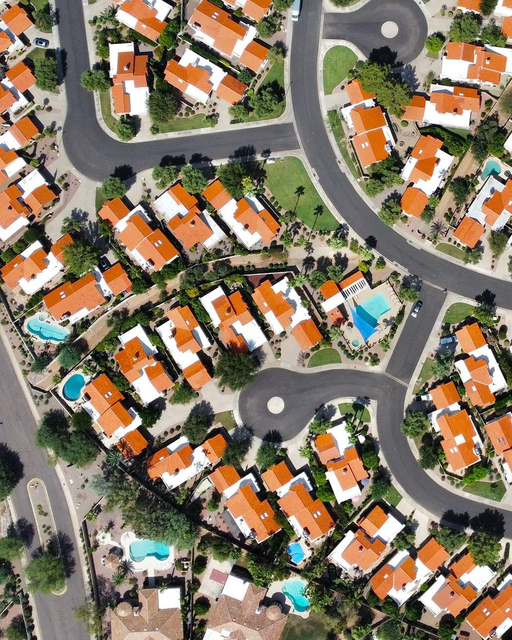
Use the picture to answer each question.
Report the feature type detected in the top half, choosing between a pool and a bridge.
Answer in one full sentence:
There is a pool in the top half.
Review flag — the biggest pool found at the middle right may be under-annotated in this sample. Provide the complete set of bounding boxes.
[353,292,392,329]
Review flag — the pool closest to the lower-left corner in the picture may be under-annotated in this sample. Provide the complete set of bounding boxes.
[129,539,171,565]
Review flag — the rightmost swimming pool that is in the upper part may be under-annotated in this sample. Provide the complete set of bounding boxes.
[481,159,503,181]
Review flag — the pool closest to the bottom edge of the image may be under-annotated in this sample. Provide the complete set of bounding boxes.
[281,580,311,613]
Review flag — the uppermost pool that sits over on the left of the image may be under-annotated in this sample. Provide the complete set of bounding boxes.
[27,314,70,343]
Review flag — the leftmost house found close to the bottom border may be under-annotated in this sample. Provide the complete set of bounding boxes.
[111,584,187,640]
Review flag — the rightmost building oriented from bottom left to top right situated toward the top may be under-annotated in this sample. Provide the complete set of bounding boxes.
[455,175,512,246]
